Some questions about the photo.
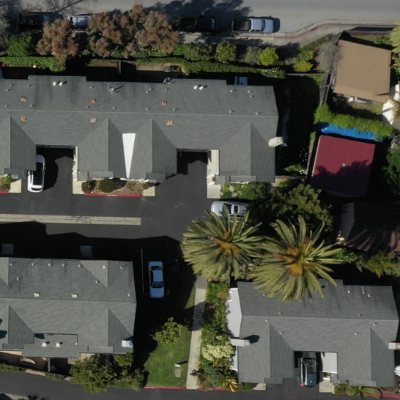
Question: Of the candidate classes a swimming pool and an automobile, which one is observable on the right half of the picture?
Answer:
automobile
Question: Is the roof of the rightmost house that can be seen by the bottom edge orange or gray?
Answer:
gray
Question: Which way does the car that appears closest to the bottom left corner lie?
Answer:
up and down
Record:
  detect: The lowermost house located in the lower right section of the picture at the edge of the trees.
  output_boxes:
[211,278,400,387]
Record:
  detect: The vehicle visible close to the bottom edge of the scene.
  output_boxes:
[297,352,318,388]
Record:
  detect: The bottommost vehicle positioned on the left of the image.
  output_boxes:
[146,260,166,299]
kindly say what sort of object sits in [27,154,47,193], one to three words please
car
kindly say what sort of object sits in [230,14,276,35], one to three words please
vehicle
